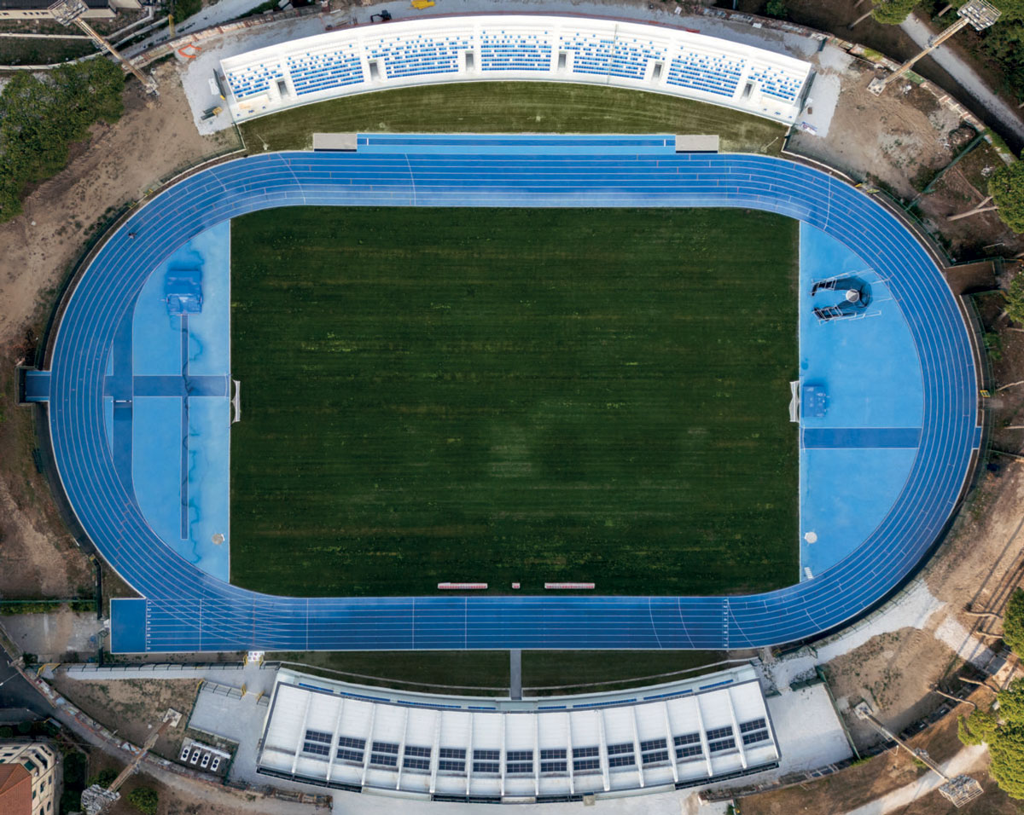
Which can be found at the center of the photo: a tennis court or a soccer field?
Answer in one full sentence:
What appears at the center of the photo is a soccer field.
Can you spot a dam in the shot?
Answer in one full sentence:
No, the picture doesn't show any dam.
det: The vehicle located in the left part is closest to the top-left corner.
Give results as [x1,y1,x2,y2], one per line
[366,6,392,26]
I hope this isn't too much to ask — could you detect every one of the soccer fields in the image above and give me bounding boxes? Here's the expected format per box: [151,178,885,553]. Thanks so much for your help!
[230,208,801,596]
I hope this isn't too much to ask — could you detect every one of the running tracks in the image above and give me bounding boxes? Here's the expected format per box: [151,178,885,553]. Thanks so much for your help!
[50,152,979,652]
